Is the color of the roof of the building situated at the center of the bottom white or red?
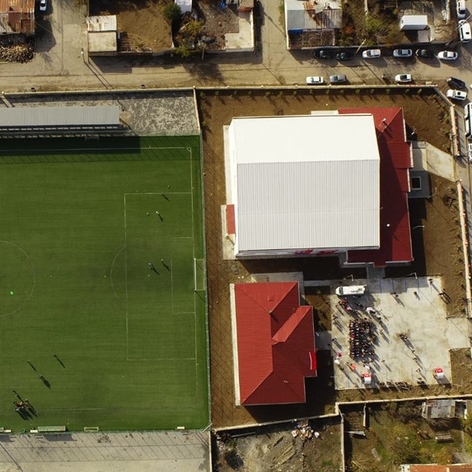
red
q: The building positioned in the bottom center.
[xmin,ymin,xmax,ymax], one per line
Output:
[234,281,316,405]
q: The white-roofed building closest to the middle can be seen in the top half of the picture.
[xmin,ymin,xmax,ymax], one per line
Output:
[231,113,379,254]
